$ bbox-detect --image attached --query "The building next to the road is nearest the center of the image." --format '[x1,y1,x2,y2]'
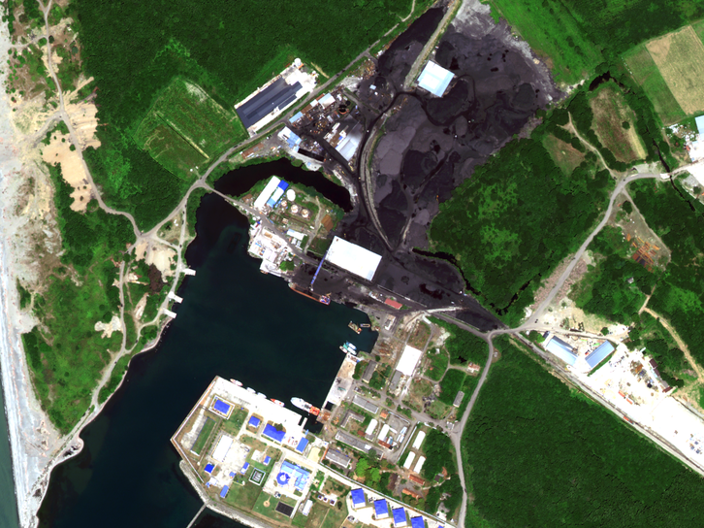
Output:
[325,237,382,283]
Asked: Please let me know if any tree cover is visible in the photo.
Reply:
Yes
